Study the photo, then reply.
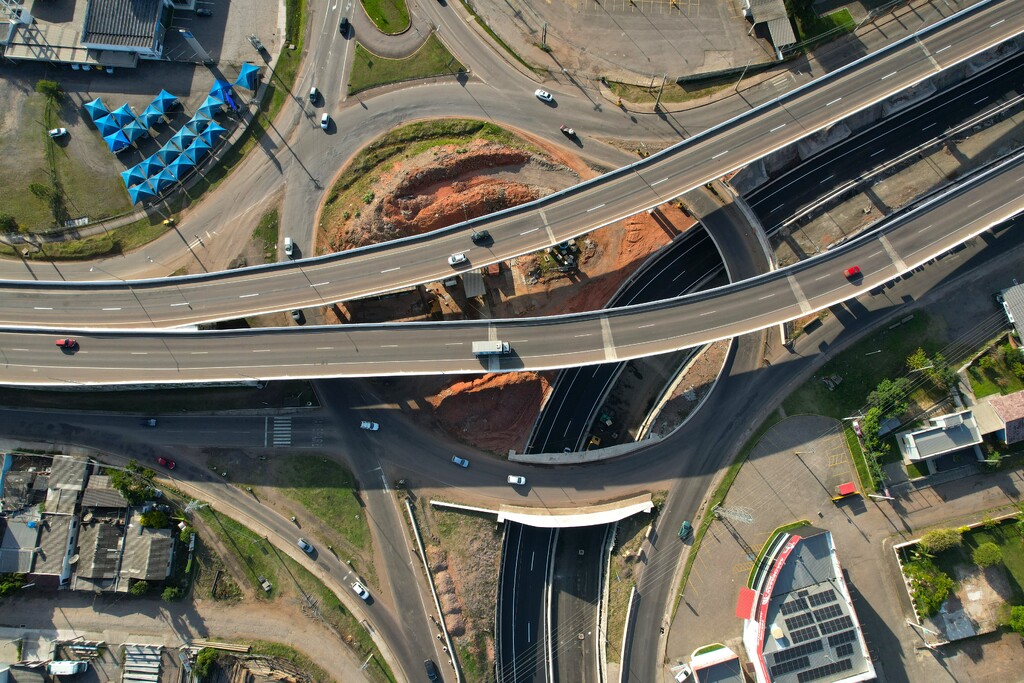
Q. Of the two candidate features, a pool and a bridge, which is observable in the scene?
bridge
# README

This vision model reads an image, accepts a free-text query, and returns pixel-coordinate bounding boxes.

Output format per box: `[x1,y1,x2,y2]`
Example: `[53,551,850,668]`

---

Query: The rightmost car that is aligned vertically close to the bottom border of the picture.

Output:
[425,660,437,682]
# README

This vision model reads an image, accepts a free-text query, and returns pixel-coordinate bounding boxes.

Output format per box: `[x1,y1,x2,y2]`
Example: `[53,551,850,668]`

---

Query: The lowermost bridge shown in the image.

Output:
[496,433,664,527]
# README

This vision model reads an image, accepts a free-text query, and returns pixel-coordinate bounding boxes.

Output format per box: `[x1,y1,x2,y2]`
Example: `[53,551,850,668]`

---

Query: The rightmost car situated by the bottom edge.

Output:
[675,662,692,680]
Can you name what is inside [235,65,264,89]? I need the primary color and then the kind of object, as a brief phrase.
blue tent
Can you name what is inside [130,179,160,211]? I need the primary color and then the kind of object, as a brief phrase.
blue tent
